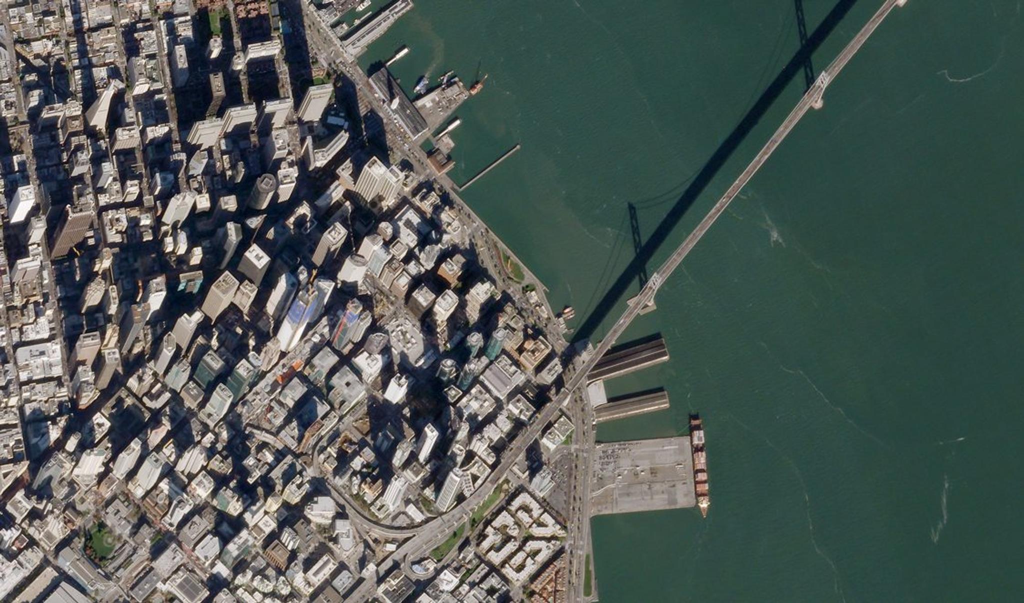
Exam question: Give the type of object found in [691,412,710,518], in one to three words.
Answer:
ship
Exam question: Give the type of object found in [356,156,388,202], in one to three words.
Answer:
building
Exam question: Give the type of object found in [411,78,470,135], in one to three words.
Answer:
pier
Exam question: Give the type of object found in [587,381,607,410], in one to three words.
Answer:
shed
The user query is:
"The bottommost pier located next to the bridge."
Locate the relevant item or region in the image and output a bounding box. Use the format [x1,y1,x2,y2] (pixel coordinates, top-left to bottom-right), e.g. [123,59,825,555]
[589,435,696,518]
